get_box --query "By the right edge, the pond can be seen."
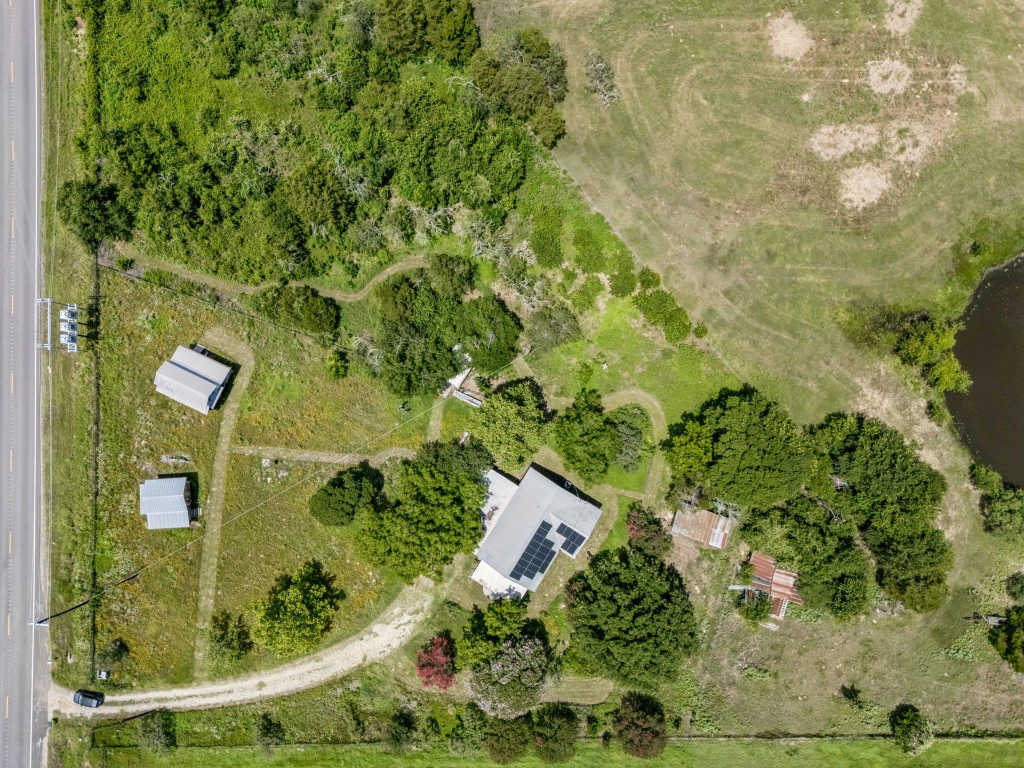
[946,253,1024,487]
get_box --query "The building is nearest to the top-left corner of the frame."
[155,345,238,415]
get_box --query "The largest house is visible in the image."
[469,467,602,605]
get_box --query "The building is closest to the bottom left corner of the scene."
[140,477,202,529]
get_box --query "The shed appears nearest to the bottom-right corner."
[748,552,803,617]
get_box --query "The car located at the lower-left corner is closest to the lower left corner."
[73,689,107,707]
